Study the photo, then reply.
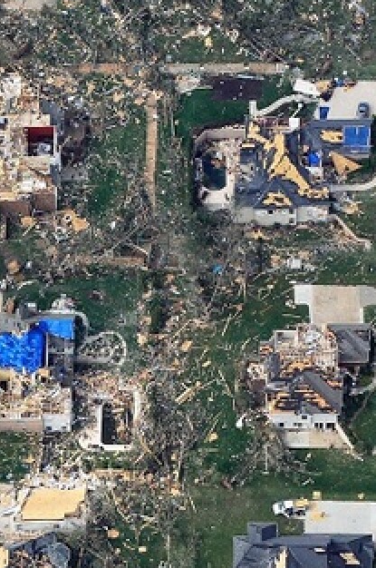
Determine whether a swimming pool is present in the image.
Yes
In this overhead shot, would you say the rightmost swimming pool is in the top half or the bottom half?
top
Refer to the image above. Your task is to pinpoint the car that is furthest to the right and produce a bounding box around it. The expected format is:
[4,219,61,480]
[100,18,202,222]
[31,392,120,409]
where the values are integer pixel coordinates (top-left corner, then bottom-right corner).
[358,98,370,119]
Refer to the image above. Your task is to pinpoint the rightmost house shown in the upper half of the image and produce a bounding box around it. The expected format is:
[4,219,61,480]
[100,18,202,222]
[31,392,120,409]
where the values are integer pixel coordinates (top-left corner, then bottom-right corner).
[190,117,371,226]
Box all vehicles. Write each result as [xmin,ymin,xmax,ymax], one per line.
[358,98,370,119]
[273,499,309,516]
